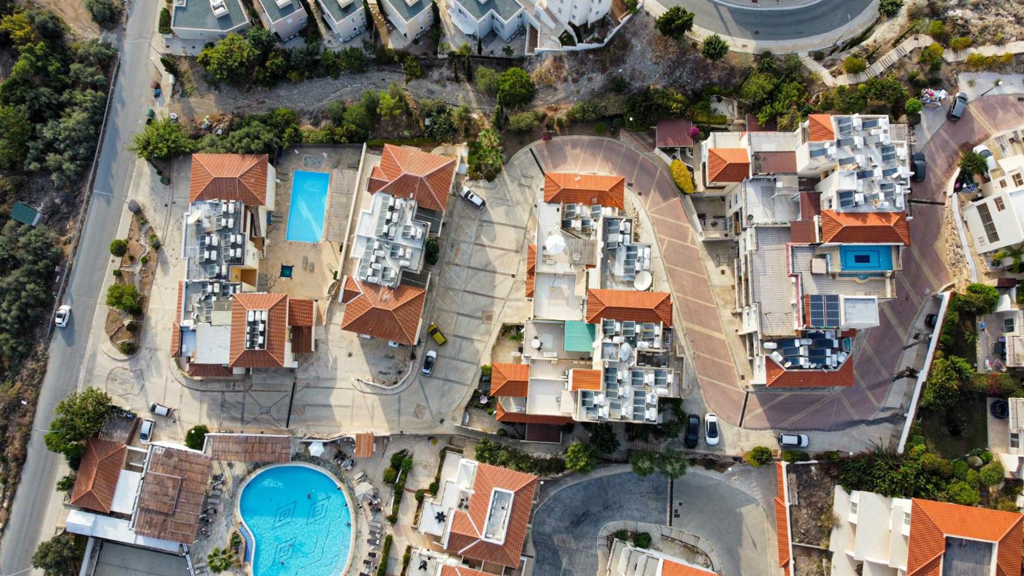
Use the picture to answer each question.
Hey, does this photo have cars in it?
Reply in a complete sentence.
Yes, the photo shows a car.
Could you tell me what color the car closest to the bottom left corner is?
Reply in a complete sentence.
The color of the car closest to the bottom left corner is white.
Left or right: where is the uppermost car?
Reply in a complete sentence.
The uppermost car sits on the right side.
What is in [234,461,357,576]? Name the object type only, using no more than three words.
swimming pool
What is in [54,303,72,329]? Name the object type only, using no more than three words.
car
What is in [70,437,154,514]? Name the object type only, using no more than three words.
building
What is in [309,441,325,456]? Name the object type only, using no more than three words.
umbrella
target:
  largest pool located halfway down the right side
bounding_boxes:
[838,244,896,273]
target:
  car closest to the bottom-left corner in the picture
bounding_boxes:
[137,415,157,447]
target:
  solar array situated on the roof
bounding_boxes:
[811,295,839,327]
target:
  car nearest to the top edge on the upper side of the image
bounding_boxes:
[947,91,969,121]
